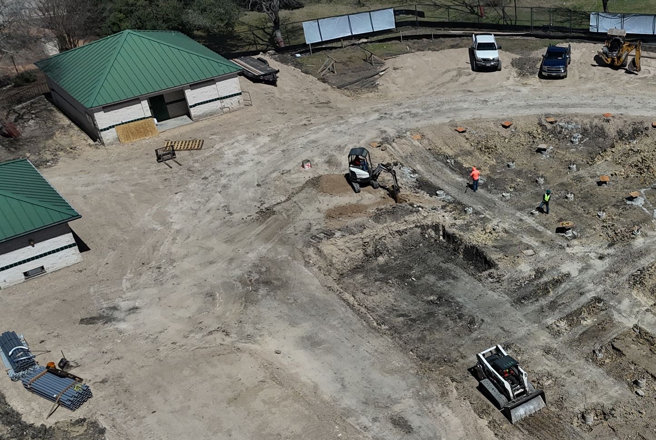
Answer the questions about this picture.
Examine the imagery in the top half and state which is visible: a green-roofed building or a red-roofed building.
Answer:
green-roofed building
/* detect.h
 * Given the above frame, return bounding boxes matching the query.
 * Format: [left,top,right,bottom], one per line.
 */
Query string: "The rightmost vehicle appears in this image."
[595,28,644,73]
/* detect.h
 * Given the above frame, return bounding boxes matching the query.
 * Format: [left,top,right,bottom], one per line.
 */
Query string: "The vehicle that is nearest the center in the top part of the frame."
[342,148,395,197]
